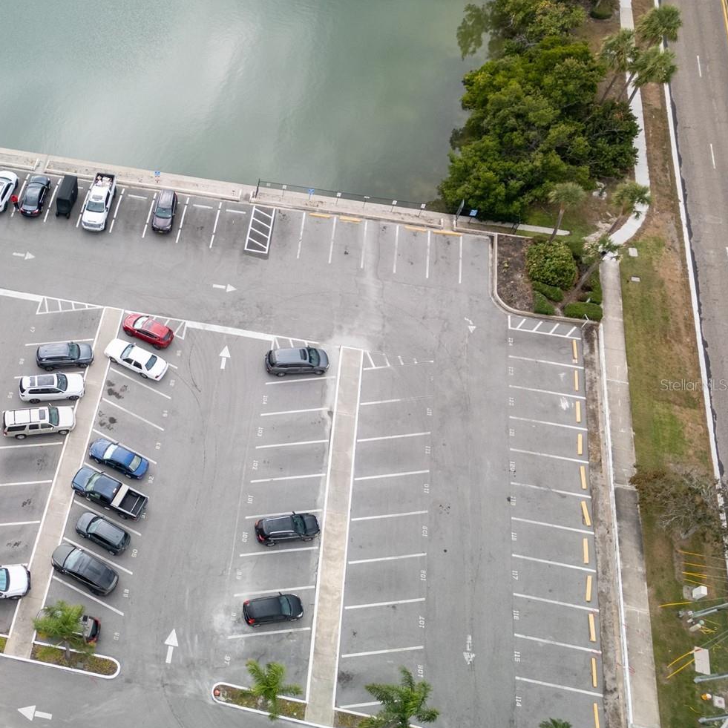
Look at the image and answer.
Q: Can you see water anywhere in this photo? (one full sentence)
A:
Yes, there's water in this view.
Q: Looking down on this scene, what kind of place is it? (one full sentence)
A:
This looks like a parking lot.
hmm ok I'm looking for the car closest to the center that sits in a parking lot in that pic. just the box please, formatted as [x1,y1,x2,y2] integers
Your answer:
[264,345,330,378]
